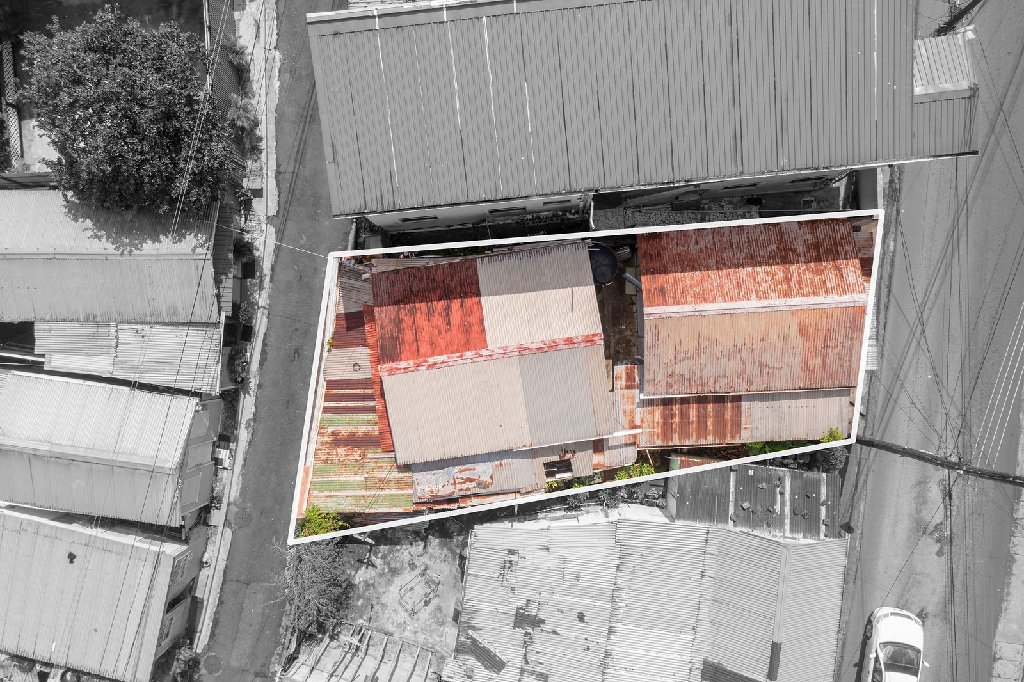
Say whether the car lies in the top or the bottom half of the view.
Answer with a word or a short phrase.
bottom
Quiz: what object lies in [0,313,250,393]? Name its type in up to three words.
shed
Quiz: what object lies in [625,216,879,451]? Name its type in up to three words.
house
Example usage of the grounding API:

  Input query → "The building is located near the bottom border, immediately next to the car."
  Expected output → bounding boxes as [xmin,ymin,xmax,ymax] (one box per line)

[442,509,849,682]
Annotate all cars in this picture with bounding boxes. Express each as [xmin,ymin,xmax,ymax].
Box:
[862,604,931,682]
